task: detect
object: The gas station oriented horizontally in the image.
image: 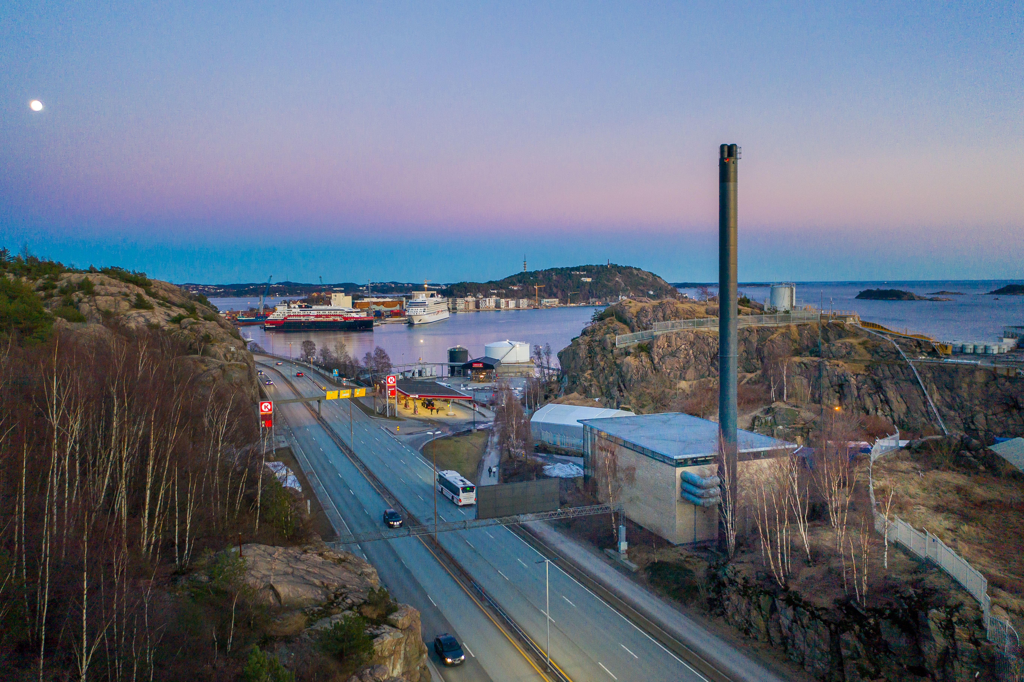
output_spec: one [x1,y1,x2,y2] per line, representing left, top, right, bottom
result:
[368,380,472,412]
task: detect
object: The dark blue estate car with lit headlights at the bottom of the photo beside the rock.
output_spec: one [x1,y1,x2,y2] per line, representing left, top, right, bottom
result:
[434,631,467,664]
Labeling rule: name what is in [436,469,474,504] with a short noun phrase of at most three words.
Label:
bus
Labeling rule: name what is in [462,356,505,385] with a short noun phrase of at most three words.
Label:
shed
